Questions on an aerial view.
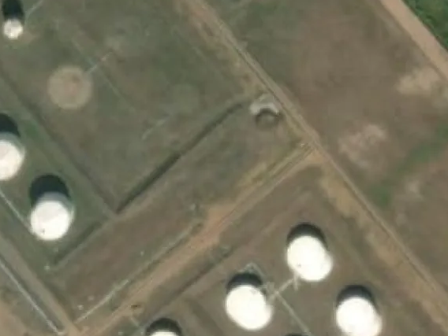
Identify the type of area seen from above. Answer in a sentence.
The picture captures an industrial area.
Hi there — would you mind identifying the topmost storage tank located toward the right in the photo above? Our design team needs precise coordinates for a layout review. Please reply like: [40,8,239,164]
[286,231,333,281]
